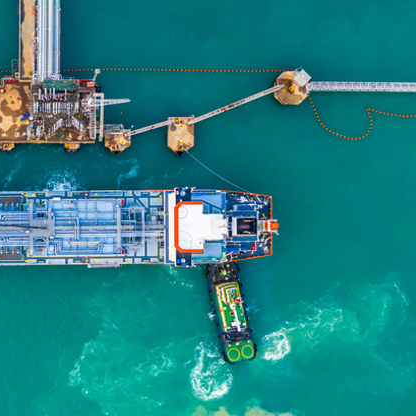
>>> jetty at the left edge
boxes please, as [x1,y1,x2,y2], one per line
[20,0,63,80]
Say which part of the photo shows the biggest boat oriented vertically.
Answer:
bottom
